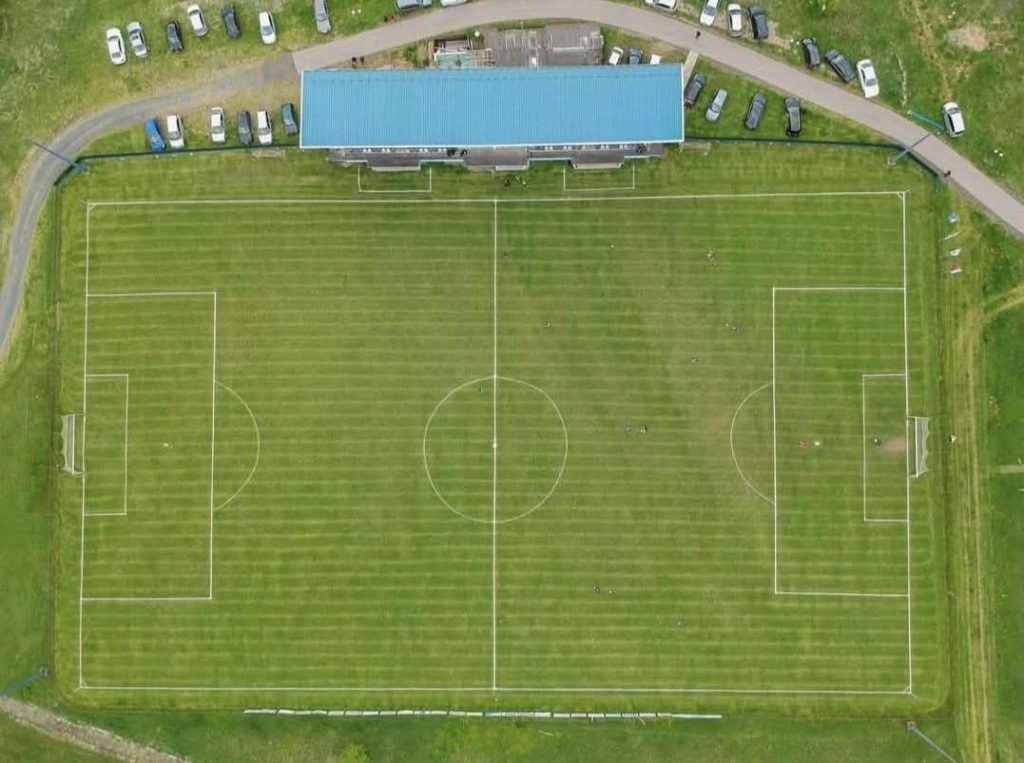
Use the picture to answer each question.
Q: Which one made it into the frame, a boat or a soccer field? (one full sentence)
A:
Looking from above, you can make out a soccer field.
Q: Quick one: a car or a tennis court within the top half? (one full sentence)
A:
The feature located within the top half is a car.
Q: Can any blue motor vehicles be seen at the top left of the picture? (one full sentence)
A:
Yes, there is a blue motor vehicle at the top left of the picture.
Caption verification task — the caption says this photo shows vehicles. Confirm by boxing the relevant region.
[605,45,625,66]
[256,110,274,145]
[396,0,434,14]
[236,110,255,146]
[825,48,856,85]
[782,96,804,136]
[189,4,209,38]
[802,38,821,69]
[106,28,128,66]
[641,0,679,15]
[143,116,167,154]
[281,103,300,136]
[699,0,722,28]
[209,107,228,144]
[941,101,967,139]
[742,91,767,131]
[223,5,242,40]
[127,20,151,60]
[748,5,769,41]
[705,87,731,124]
[257,10,278,46]
[647,54,662,65]
[164,113,187,149]
[685,73,706,110]
[627,47,644,66]
[856,58,880,100]
[165,20,185,54]
[725,3,744,39]
[312,0,333,35]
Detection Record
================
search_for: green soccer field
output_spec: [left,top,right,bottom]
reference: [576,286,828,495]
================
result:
[58,147,946,714]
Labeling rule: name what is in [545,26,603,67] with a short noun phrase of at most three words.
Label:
shed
